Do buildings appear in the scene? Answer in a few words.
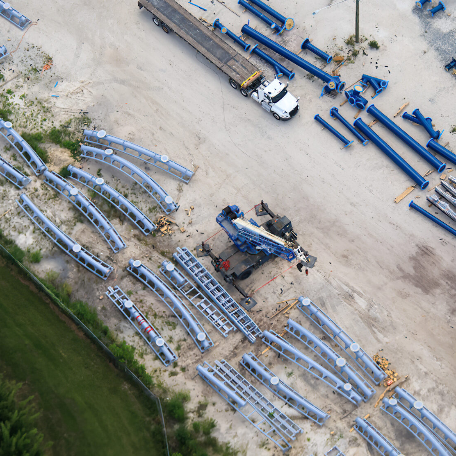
No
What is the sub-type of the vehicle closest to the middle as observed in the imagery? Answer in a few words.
truck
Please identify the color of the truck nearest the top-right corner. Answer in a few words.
white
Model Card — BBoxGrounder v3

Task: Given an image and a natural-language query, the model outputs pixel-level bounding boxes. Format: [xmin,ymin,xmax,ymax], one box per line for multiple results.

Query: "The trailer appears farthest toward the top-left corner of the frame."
[138,0,260,87]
